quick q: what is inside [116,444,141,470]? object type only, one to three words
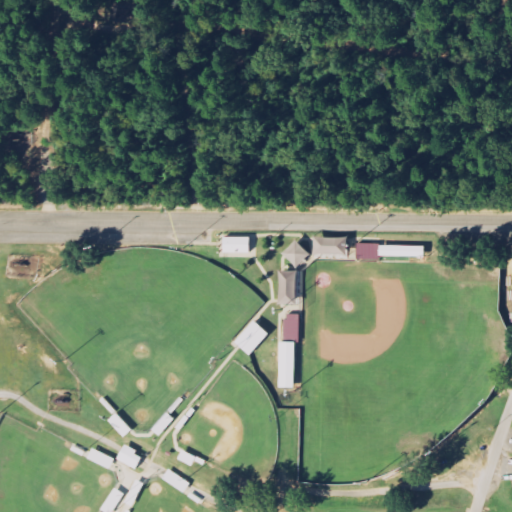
building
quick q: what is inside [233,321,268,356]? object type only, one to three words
building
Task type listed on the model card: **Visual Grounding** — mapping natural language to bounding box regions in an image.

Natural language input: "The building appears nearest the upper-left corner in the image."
[222,236,250,252]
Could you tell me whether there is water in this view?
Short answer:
No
